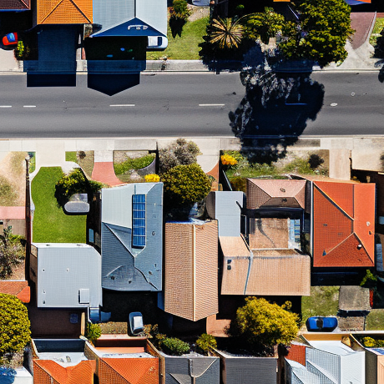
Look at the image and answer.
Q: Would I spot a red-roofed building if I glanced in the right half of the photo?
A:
Yes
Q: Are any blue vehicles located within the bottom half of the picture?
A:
Yes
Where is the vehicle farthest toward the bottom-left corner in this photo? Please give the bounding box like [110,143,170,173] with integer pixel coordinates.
[95,300,113,326]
